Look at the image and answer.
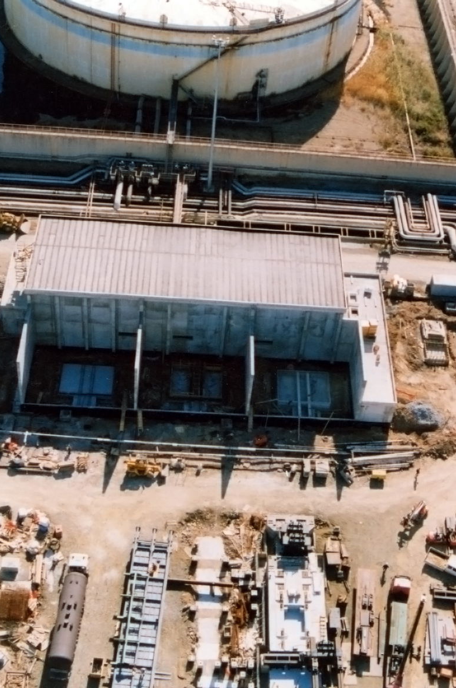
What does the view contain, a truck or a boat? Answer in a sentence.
This aerial view contains a truck.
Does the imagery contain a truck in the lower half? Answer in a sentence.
Yes, you'll find a truck in the lower half.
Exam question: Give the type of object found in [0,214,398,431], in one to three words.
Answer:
building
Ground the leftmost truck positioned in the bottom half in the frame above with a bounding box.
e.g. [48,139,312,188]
[46,549,91,678]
